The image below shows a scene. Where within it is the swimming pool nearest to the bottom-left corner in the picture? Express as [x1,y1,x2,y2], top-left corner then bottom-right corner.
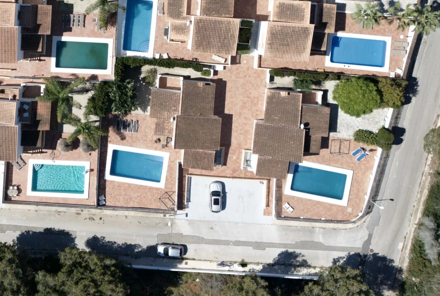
[27,159,89,199]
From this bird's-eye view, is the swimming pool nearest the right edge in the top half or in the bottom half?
top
